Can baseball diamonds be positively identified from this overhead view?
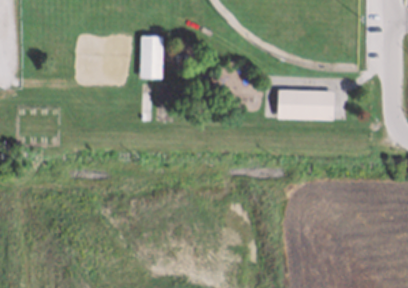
Yes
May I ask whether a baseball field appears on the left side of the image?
Yes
